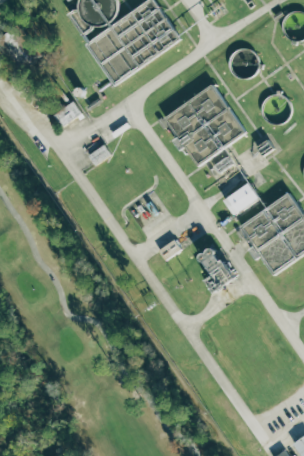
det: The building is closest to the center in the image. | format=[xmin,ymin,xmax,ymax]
[162,238,187,261]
